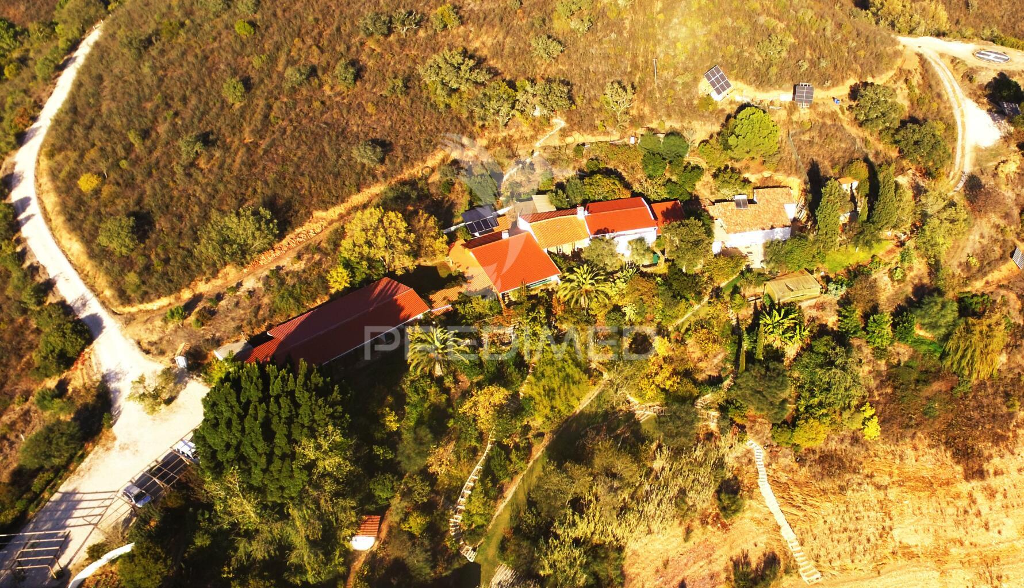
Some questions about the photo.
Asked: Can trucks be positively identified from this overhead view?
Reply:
No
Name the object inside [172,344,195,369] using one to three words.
shed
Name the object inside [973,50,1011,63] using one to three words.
helipad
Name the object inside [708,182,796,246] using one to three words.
house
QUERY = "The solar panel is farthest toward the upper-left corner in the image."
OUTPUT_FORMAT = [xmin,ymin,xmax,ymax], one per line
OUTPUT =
[466,216,496,236]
